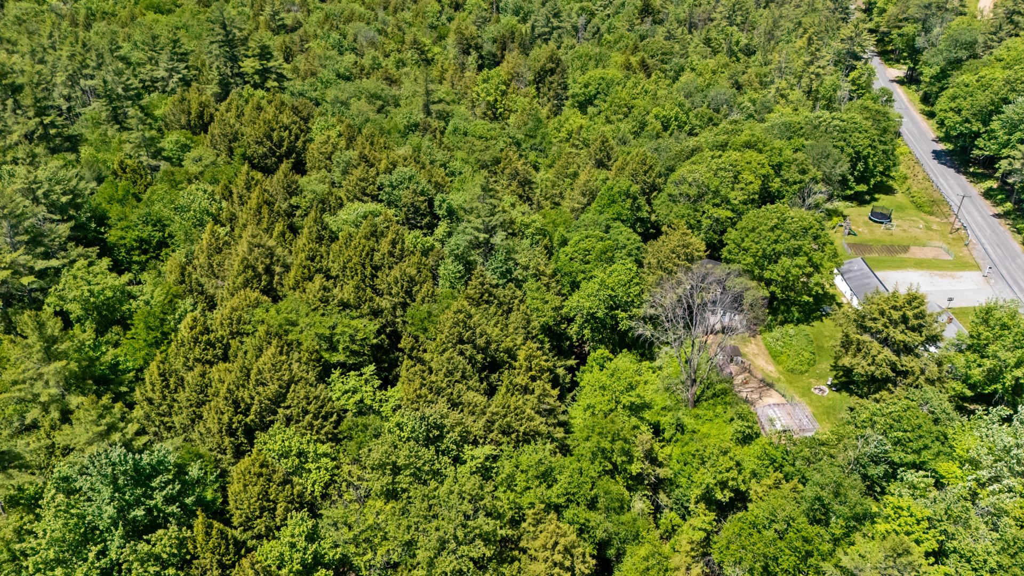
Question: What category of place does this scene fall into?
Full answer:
It's a forest.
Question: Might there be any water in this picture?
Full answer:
No, the picture contains no water.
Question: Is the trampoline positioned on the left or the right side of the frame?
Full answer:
It is on the right.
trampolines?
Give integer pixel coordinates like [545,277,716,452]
[871,201,894,222]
